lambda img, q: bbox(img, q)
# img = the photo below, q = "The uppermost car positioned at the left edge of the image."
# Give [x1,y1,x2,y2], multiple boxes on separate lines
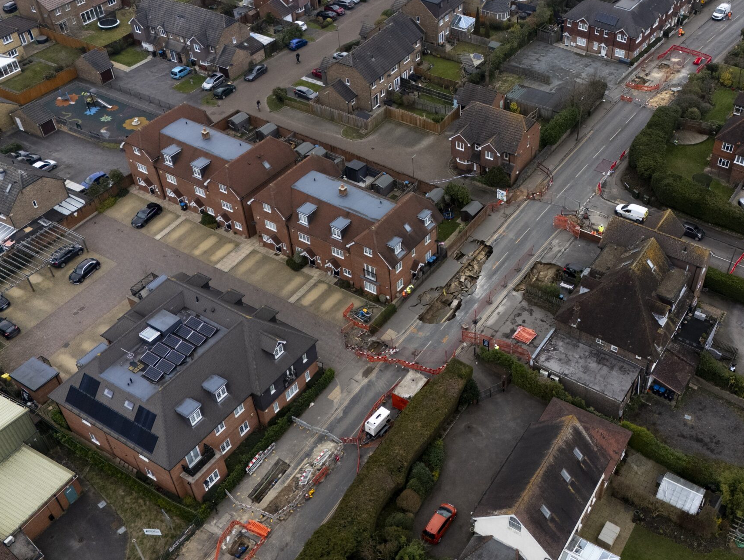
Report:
[0,1,18,15]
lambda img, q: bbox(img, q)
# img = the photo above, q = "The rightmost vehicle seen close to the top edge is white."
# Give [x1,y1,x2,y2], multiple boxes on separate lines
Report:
[710,1,733,21]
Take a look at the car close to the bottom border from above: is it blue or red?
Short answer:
red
